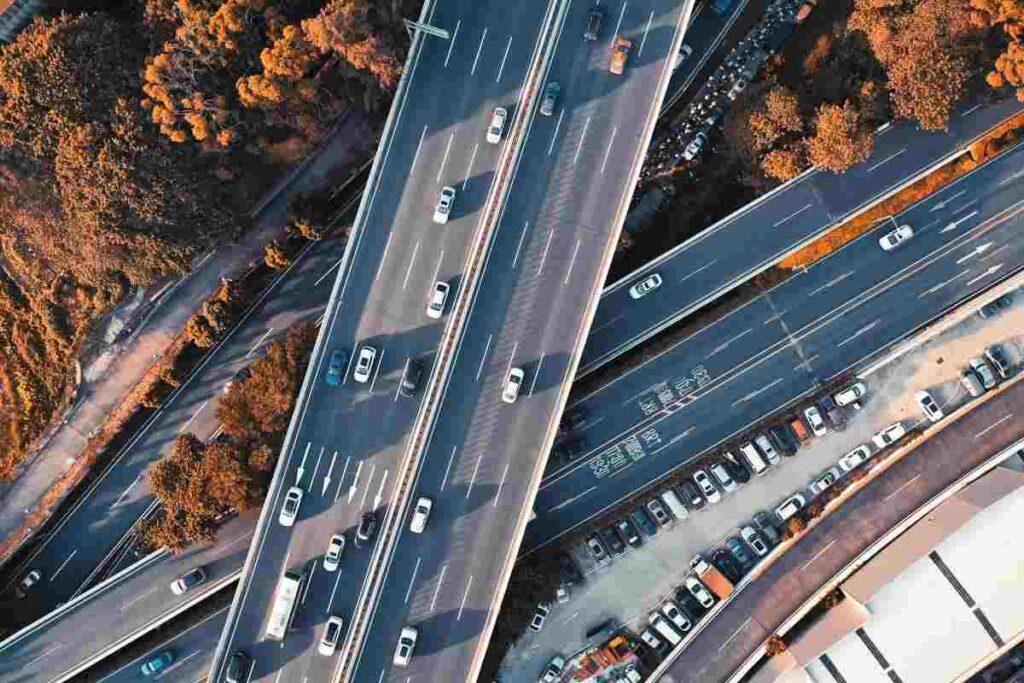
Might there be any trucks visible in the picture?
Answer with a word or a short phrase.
Yes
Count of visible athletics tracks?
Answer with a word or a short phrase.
0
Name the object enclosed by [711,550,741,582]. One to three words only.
car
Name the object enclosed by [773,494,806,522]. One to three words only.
car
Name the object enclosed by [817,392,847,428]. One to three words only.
truck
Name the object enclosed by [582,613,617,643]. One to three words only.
van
